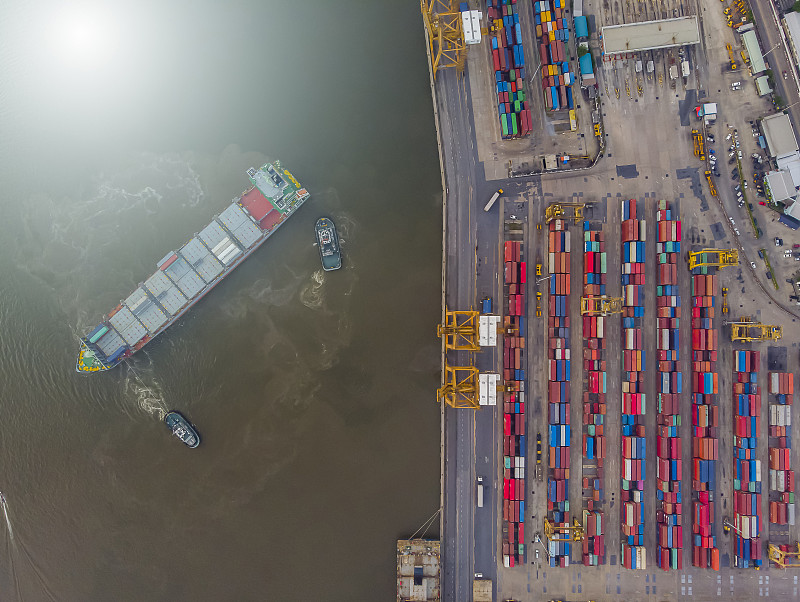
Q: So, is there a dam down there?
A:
No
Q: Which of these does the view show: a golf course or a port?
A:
port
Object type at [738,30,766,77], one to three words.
shed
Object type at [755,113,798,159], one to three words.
building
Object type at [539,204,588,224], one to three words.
container crane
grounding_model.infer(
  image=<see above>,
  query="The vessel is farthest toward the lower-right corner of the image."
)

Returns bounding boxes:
[397,537,439,602]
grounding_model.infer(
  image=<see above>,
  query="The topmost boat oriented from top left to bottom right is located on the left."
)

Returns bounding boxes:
[165,408,202,450]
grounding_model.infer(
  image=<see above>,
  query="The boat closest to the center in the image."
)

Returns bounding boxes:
[314,216,342,272]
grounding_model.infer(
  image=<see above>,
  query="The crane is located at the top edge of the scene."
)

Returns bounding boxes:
[416,1,502,81]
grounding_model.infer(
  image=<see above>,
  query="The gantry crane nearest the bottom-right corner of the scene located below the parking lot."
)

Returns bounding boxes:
[760,539,800,568]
